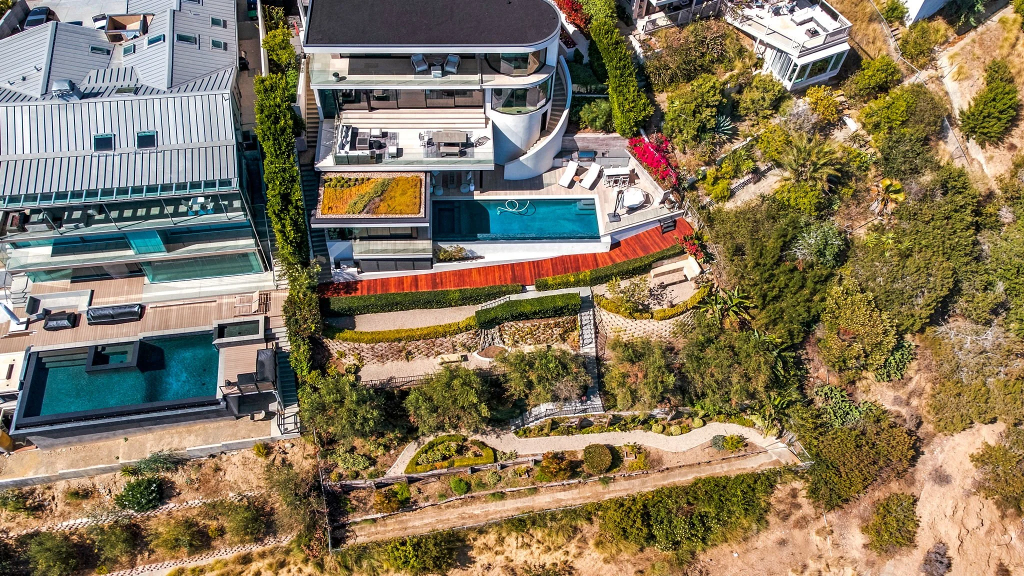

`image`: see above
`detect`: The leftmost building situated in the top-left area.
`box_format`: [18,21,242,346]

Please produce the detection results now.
[0,0,277,283]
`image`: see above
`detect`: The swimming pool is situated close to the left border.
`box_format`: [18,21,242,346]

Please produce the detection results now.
[9,327,232,452]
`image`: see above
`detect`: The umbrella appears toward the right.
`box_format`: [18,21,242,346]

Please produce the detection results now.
[607,186,626,223]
